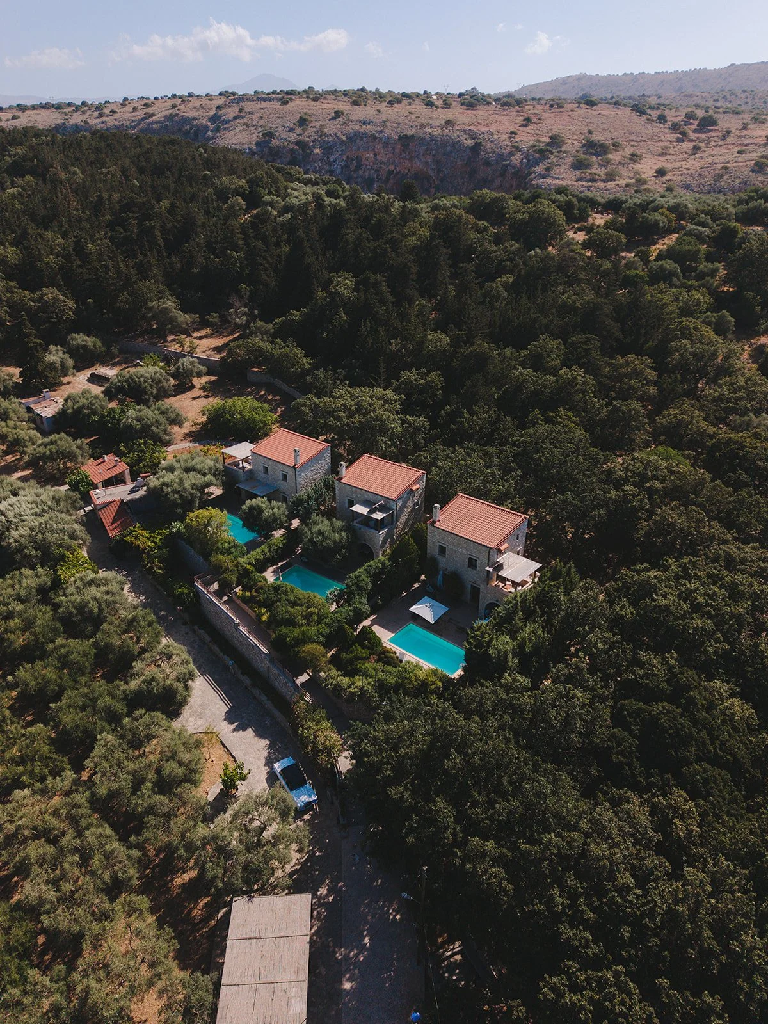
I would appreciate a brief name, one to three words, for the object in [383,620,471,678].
swimming pool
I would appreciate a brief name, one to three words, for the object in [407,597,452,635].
umbrella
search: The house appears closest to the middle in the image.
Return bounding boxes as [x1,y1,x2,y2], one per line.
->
[332,452,430,558]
